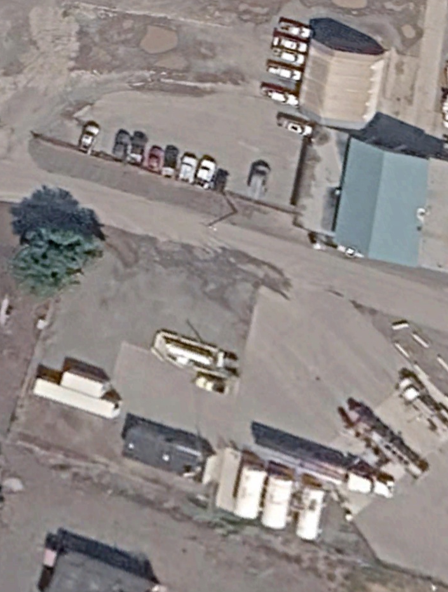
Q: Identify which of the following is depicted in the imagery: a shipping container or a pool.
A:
shipping container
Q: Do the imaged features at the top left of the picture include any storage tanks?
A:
No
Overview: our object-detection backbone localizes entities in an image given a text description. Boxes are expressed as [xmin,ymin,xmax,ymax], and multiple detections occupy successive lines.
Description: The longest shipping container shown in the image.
[216,448,244,510]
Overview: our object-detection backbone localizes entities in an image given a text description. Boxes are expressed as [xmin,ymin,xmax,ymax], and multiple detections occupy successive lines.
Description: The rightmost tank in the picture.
[295,490,324,538]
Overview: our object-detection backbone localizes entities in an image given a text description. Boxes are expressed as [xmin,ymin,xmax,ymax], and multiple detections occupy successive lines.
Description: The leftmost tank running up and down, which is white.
[236,469,266,516]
